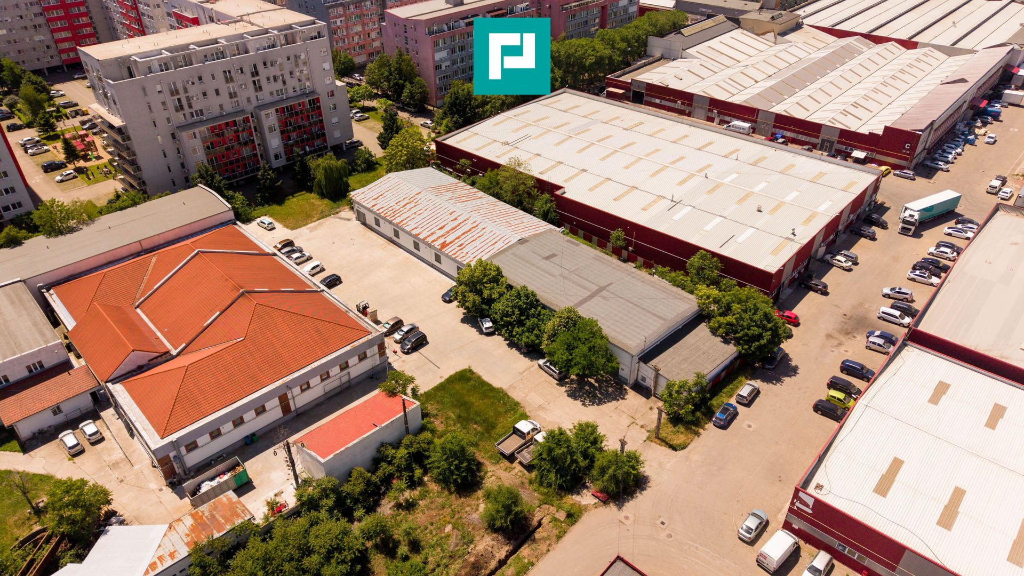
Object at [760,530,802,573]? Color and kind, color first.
white van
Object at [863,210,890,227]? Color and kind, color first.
black car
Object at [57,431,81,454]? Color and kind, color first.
white car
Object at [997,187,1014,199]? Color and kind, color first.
white vehicle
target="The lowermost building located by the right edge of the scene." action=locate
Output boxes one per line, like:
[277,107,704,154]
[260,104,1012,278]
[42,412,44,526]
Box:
[783,339,1024,576]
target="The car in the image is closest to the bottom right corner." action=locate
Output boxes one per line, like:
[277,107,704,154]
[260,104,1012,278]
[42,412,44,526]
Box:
[803,547,835,576]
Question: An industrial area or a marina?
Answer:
industrial area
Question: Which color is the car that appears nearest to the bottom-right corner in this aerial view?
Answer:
white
